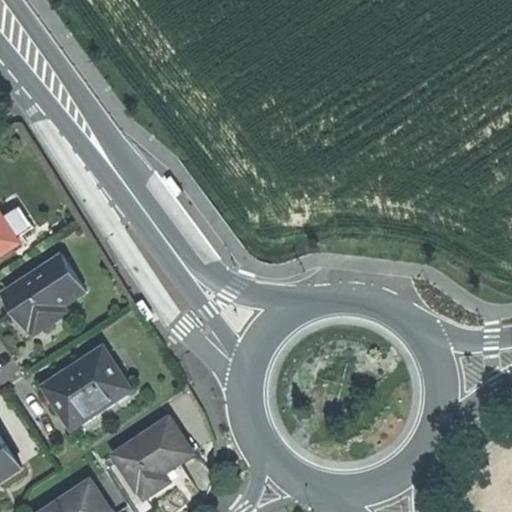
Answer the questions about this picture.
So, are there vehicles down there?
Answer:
Yes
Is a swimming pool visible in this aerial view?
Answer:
No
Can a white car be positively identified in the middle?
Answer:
No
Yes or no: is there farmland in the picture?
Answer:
Yes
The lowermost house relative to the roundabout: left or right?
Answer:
left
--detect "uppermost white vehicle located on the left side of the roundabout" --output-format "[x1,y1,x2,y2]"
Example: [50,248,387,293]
[26,394,45,416]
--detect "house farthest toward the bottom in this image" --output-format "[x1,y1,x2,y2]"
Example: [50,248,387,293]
[40,478,114,512]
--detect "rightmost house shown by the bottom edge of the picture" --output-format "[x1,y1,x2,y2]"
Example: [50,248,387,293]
[111,416,197,502]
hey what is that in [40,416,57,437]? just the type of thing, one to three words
car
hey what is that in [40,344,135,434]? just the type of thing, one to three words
house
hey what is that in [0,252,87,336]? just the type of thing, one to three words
house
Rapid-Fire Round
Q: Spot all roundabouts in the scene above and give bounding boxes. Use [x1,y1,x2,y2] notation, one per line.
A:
[239,288,451,500]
